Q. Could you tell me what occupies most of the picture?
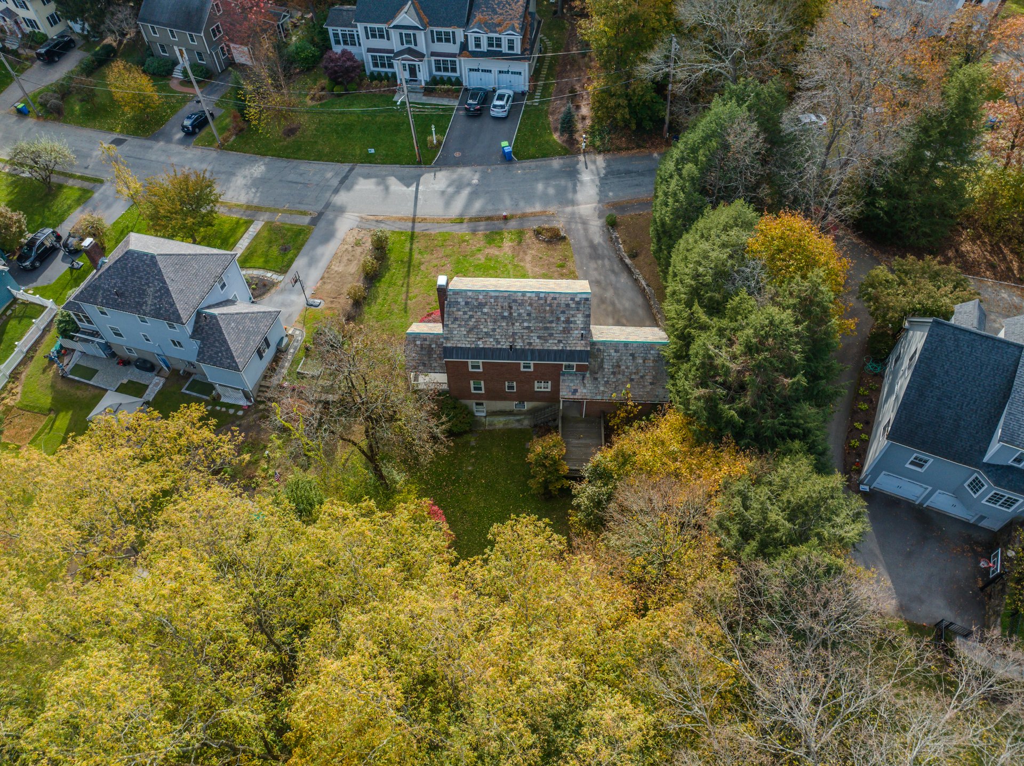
trees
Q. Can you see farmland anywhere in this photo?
No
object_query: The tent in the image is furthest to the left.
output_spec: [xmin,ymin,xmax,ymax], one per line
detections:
[85,389,153,441]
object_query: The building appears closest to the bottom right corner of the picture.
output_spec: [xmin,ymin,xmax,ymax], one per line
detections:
[859,298,1024,541]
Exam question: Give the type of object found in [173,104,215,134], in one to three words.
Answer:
car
